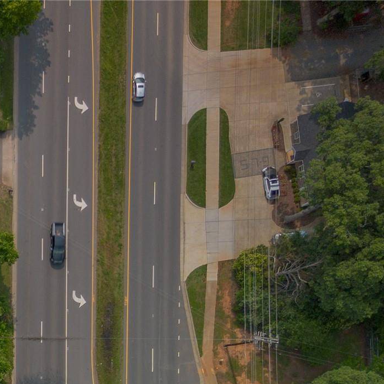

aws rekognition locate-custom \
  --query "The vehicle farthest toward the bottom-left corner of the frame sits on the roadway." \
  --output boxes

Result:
[49,222,66,266]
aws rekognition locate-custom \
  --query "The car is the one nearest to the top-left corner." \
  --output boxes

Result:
[131,73,147,104]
